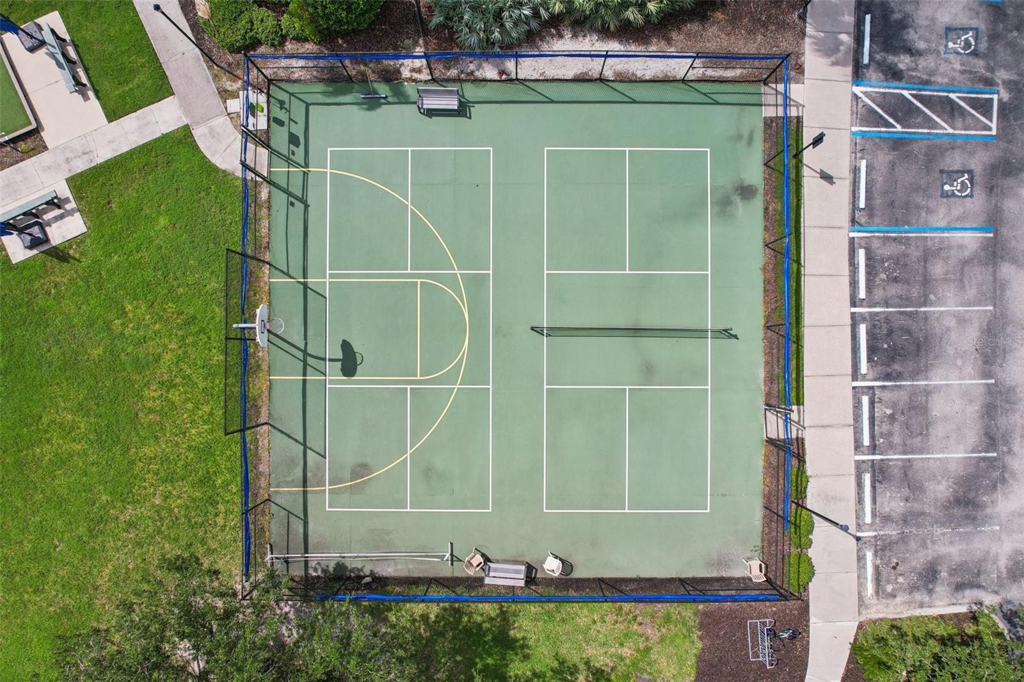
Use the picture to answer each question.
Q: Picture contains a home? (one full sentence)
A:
No, there's no home here.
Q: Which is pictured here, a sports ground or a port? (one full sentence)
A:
What you see here is a sports ground.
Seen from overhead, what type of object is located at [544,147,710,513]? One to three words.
sports court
